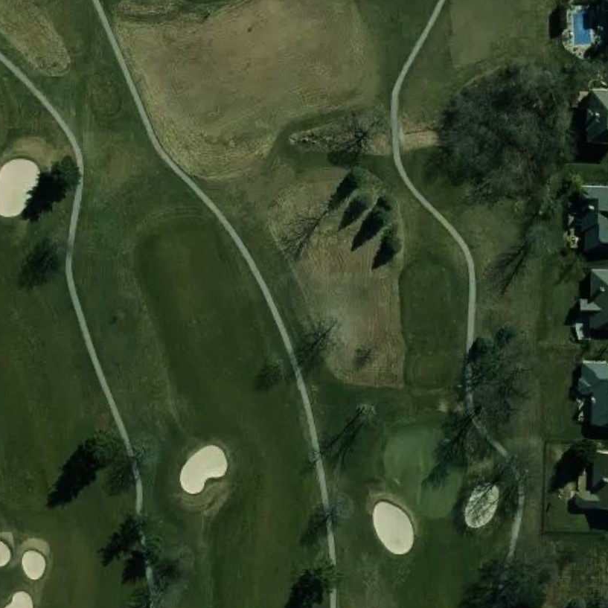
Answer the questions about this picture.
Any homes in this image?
Yes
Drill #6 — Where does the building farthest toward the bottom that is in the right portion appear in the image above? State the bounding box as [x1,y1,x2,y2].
[561,466,608,510]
